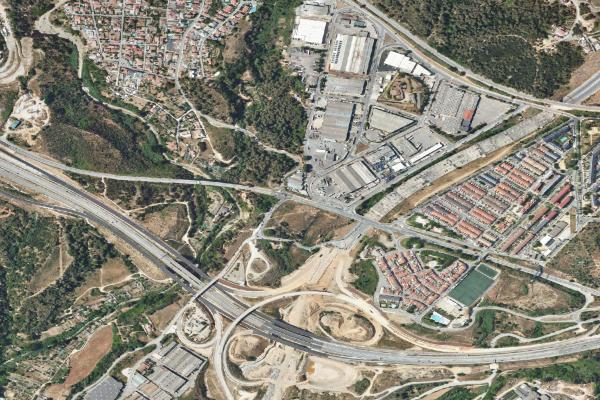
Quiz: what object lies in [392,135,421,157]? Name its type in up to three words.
building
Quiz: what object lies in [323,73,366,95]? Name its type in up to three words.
building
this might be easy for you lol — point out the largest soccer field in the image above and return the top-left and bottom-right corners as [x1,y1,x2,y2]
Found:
[449,268,493,309]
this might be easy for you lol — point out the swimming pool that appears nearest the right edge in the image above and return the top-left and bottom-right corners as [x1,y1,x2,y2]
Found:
[431,310,451,326]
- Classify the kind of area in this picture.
residential area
